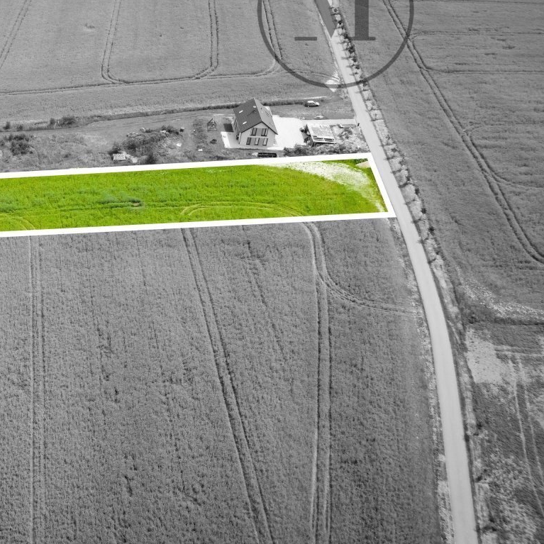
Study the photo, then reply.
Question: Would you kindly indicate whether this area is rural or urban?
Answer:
rural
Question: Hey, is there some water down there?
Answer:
No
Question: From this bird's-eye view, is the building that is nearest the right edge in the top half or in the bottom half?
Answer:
top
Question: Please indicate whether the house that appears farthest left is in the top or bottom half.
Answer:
top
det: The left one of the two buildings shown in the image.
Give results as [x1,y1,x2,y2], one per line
[235,97,281,145]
